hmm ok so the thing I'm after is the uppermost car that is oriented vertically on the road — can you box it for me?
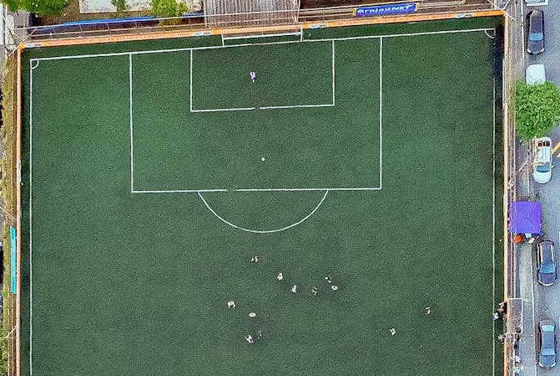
[524,10,546,56]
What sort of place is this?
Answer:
sports ground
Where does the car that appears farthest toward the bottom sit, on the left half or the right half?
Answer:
right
